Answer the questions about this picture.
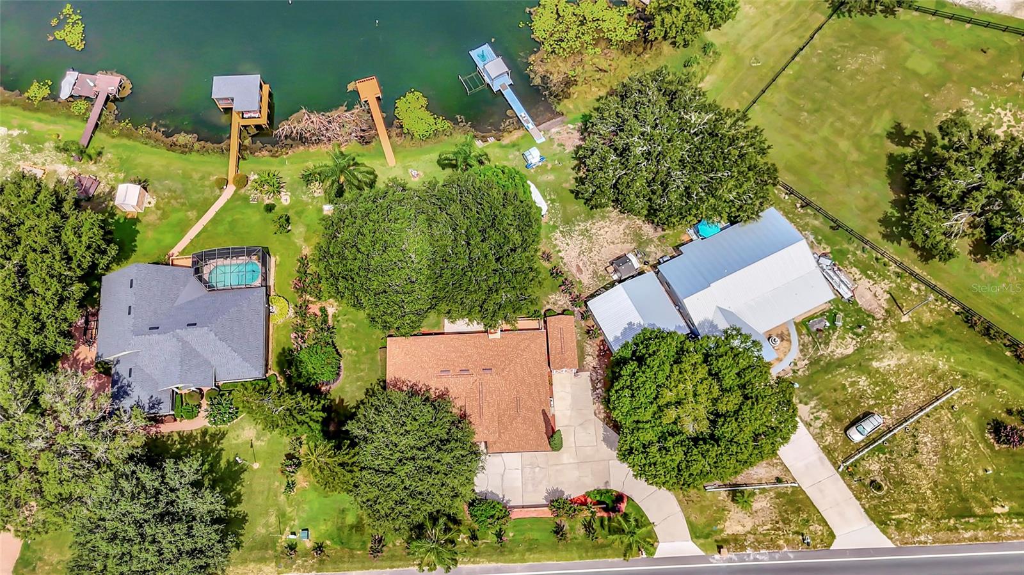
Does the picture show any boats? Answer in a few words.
Yes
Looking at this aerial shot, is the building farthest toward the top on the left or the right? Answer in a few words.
left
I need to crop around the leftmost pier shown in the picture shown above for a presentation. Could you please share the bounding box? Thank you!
[72,73,126,145]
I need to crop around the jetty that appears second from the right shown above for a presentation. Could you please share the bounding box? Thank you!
[355,72,396,167]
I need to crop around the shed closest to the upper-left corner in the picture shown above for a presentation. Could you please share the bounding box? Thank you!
[113,181,150,223]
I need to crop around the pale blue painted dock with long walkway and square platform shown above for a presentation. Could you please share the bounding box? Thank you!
[468,42,546,144]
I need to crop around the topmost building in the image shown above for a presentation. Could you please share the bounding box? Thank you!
[212,74,272,187]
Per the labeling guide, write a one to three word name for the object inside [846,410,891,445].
car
